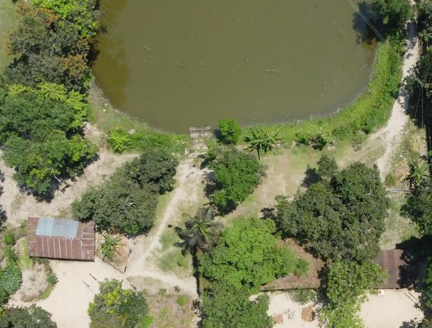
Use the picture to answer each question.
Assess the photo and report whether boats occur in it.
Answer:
No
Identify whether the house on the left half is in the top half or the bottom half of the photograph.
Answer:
bottom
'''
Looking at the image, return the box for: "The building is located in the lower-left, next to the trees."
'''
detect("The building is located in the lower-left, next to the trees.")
[29,218,97,260]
